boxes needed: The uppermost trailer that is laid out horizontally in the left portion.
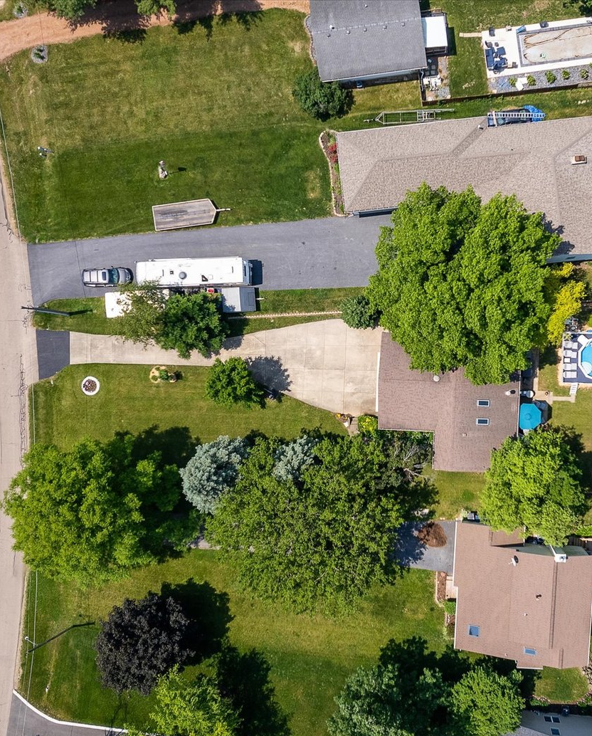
[148,197,228,229]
